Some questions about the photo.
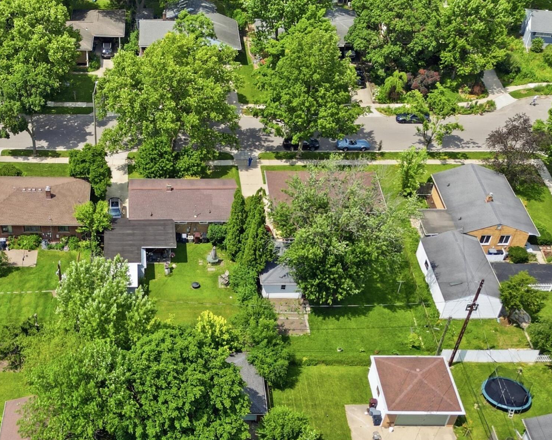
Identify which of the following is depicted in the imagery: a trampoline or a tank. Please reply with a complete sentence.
I can see a trampoline in this picture.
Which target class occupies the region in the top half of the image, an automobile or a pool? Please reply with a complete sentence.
Visible in the top half of the image is an automobile.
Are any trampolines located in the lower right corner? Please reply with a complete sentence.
Yes, I can see a trampoline in the lower right corner.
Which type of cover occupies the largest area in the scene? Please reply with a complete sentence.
For the most part, this view shows trees.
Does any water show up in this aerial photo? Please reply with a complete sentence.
No, the scene doesn't show any water.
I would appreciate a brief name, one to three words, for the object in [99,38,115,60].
car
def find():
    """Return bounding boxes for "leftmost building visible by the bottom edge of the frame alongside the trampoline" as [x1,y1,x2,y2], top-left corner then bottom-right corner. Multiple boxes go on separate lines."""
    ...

[367,353,468,430]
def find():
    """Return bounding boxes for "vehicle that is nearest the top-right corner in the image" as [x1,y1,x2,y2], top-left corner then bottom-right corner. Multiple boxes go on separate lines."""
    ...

[390,110,424,126]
